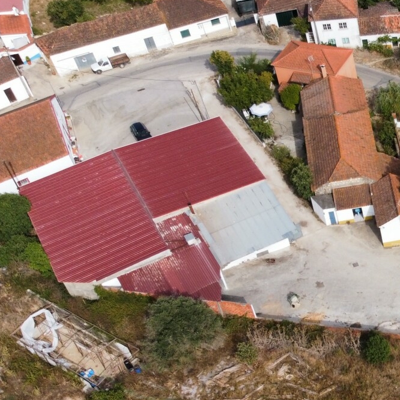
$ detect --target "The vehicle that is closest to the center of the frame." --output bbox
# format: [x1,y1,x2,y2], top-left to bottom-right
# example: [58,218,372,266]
[131,116,152,139]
